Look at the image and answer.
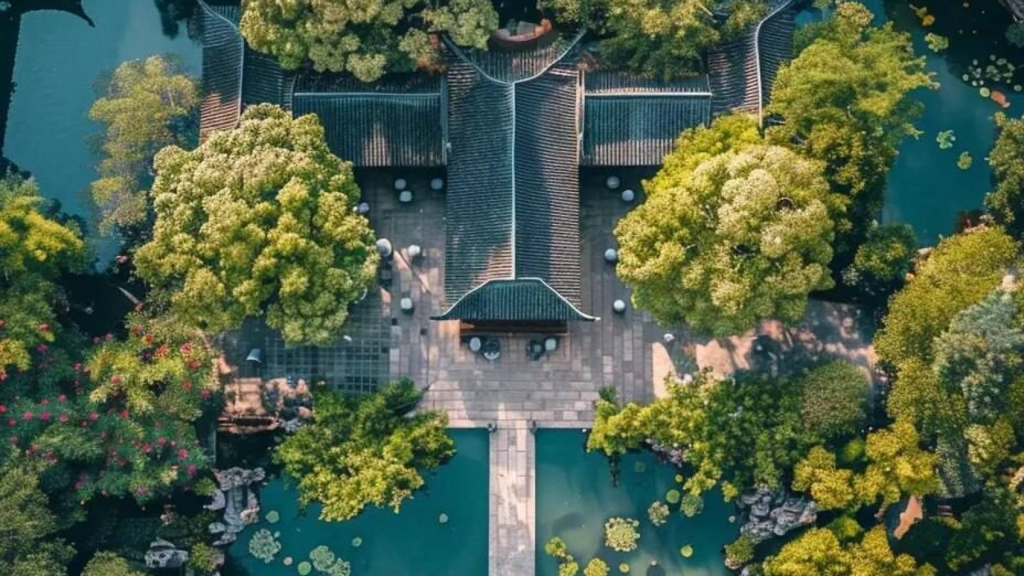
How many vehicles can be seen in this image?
none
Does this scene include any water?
Yes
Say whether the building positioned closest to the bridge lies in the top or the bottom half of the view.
top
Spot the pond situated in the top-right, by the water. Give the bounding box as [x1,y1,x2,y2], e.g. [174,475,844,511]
[794,0,1024,249]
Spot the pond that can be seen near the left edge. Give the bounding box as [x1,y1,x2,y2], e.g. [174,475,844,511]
[1,0,201,282]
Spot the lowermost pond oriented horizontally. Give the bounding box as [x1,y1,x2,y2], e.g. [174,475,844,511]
[219,416,739,576]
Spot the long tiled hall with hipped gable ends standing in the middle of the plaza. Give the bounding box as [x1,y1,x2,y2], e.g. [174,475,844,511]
[425,41,601,336]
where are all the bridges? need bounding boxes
[489,428,535,576]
